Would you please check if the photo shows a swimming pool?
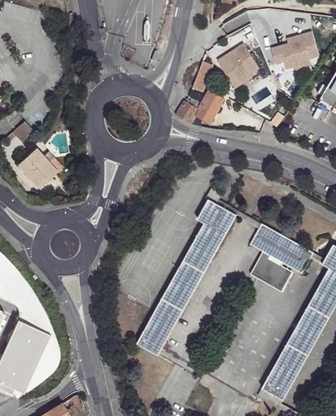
Yes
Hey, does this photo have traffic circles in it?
Yes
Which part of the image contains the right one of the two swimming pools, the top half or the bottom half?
top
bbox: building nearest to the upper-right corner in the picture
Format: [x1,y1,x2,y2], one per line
[271,30,318,70]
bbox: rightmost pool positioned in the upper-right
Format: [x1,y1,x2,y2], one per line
[251,86,272,106]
